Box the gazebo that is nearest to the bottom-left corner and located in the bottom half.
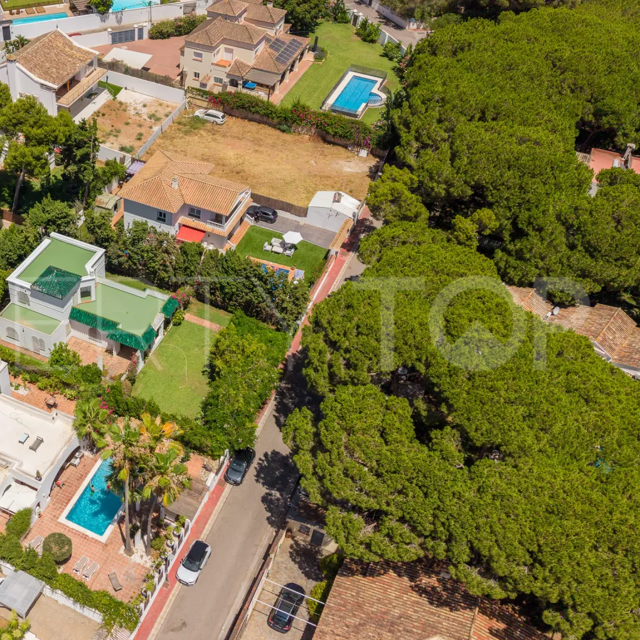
[0,571,46,628]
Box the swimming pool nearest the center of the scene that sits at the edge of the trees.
[255,260,295,279]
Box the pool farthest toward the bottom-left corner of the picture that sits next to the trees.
[59,460,149,542]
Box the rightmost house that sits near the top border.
[185,0,315,94]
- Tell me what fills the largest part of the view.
trees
